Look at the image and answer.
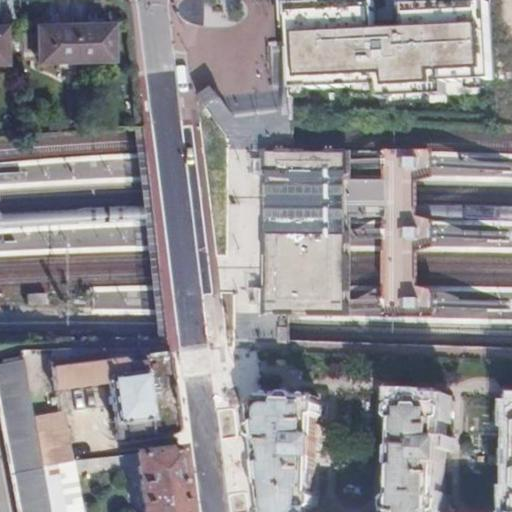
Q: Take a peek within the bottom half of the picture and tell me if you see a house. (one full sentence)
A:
Yes, looking within the bottom half of the picture, one can make out a house.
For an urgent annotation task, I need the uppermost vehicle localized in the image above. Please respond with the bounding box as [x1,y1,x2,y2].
[175,65,188,93]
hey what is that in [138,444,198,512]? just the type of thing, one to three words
house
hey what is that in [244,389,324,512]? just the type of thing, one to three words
house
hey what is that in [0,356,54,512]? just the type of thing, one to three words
building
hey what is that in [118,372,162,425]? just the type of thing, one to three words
shed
